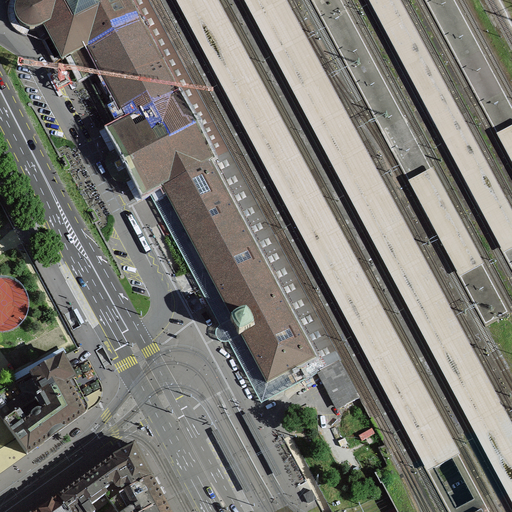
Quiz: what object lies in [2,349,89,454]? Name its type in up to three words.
building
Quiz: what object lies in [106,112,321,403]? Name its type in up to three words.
building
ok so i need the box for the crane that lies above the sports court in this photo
[16,61,215,96]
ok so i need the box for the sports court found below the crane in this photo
[0,274,31,334]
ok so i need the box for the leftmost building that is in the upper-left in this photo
[5,0,50,35]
